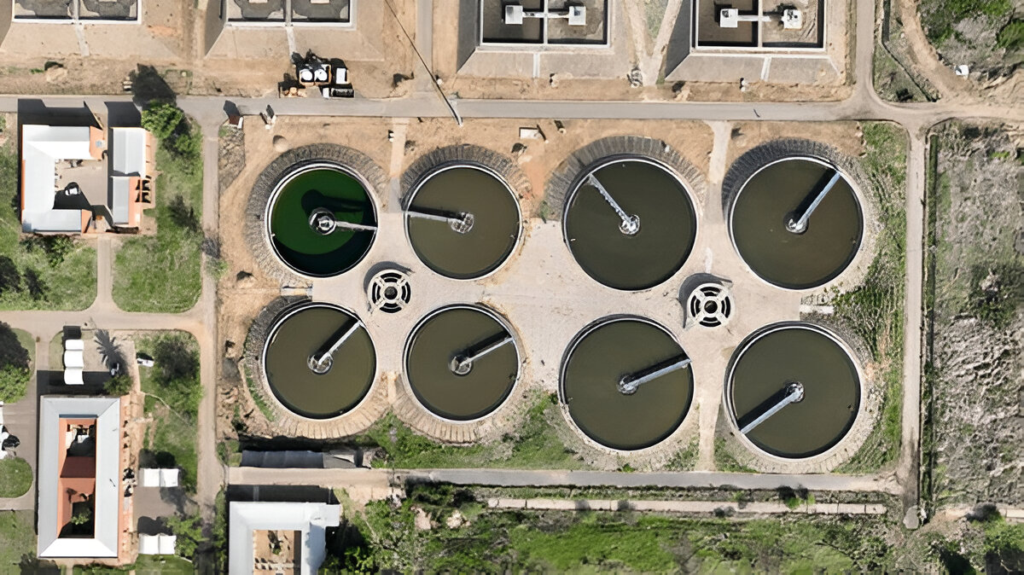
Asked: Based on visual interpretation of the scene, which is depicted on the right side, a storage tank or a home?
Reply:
storage tank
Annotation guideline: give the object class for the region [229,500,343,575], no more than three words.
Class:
house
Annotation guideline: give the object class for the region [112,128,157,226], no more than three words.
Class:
house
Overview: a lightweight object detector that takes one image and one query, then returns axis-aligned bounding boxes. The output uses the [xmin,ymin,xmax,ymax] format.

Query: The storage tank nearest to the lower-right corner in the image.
[718,312,874,474]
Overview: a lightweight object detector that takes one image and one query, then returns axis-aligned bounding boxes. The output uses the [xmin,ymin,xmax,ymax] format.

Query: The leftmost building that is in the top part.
[22,125,110,232]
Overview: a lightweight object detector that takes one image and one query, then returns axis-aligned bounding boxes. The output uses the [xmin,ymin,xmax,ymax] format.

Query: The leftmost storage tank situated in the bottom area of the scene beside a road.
[245,295,393,439]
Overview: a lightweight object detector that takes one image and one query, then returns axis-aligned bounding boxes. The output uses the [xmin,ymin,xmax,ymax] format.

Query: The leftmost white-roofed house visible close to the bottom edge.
[39,395,126,558]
